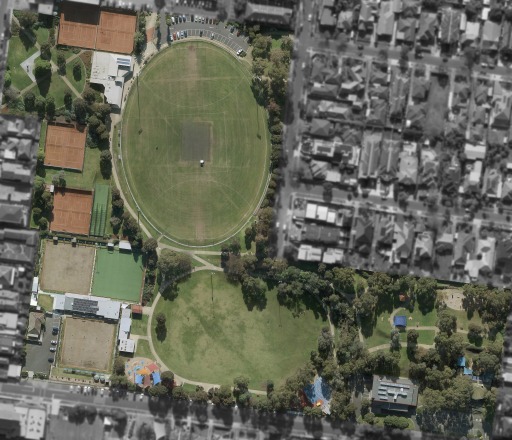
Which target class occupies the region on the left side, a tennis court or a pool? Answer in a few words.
tennis court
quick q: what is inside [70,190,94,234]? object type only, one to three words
tennis court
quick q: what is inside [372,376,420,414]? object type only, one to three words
building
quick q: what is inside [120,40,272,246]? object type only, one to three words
sports field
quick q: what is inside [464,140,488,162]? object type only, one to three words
house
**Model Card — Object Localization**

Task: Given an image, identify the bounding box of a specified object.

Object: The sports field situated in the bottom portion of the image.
[151,268,328,391]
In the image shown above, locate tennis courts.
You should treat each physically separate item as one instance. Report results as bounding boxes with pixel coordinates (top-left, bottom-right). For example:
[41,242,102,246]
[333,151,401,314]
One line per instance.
[64,127,87,169]
[114,14,136,54]
[77,4,100,49]
[50,188,74,232]
[70,190,94,234]
[44,125,68,167]
[96,12,119,52]
[58,2,82,46]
